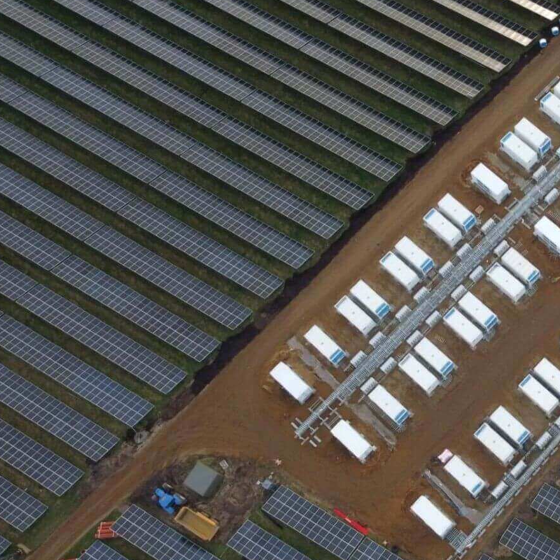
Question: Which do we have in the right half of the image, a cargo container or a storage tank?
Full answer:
What appears in the right half of the image is a cargo container.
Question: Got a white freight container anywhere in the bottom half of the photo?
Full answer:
Yes, the scene does show a white freight container in the bottom half of the photo.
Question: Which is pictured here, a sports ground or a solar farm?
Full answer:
The area seen from above is a solar farm.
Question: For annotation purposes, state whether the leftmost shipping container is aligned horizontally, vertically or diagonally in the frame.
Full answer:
From this overhead view, the leftmost shipping container appears to run diagonally.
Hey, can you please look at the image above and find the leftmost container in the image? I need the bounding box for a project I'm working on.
[271,363,316,406]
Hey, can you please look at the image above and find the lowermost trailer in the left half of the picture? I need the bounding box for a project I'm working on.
[173,505,220,541]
